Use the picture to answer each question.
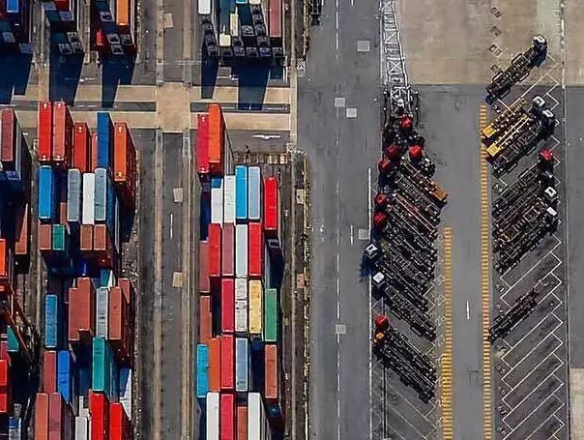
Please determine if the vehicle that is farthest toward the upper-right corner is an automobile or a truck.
truck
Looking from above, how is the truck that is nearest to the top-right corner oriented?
diagonally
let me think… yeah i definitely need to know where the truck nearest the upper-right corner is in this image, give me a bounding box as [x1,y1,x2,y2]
[493,35,548,95]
